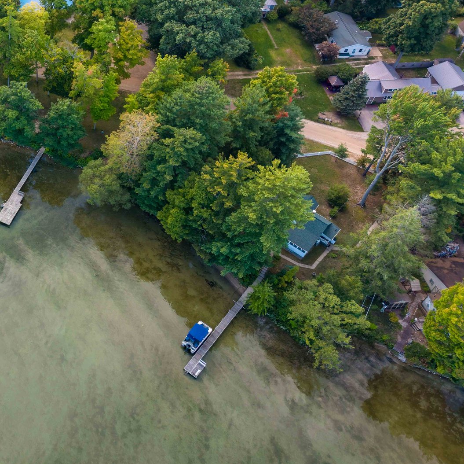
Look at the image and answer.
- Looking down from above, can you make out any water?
Yes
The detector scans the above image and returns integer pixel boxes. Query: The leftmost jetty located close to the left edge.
[0,147,45,228]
